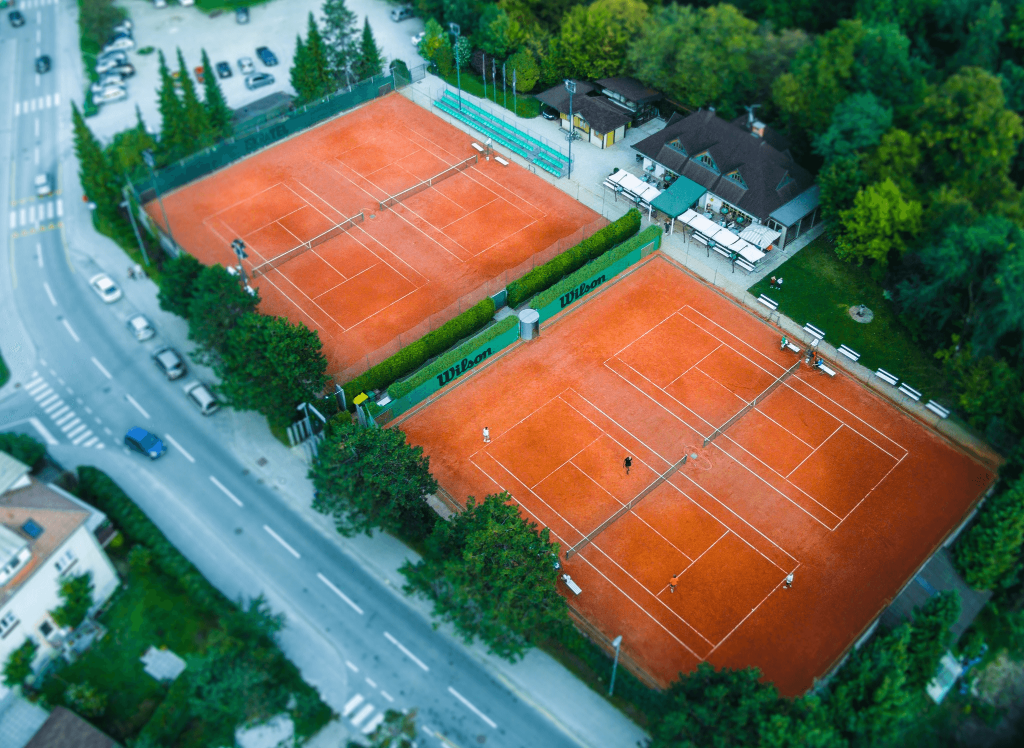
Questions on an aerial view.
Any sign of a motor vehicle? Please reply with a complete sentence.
Yes, you can see a motor vehicle in this photo.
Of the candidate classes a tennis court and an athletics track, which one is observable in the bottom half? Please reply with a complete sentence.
The one visible in the bottom half is a tennis court.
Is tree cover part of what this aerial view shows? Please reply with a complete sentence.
Yes, tree cover can be seen from above here.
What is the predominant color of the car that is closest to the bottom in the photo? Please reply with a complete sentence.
The car that is closest to the bottom looks blue in the image.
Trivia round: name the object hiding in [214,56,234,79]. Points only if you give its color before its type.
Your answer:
blue car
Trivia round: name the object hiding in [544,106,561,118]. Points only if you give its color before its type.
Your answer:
black vehicle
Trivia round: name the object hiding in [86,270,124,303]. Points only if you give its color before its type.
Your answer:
white car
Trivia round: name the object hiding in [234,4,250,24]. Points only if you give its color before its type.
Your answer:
blue car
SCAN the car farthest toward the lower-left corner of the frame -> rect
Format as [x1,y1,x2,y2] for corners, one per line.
[121,424,169,461]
